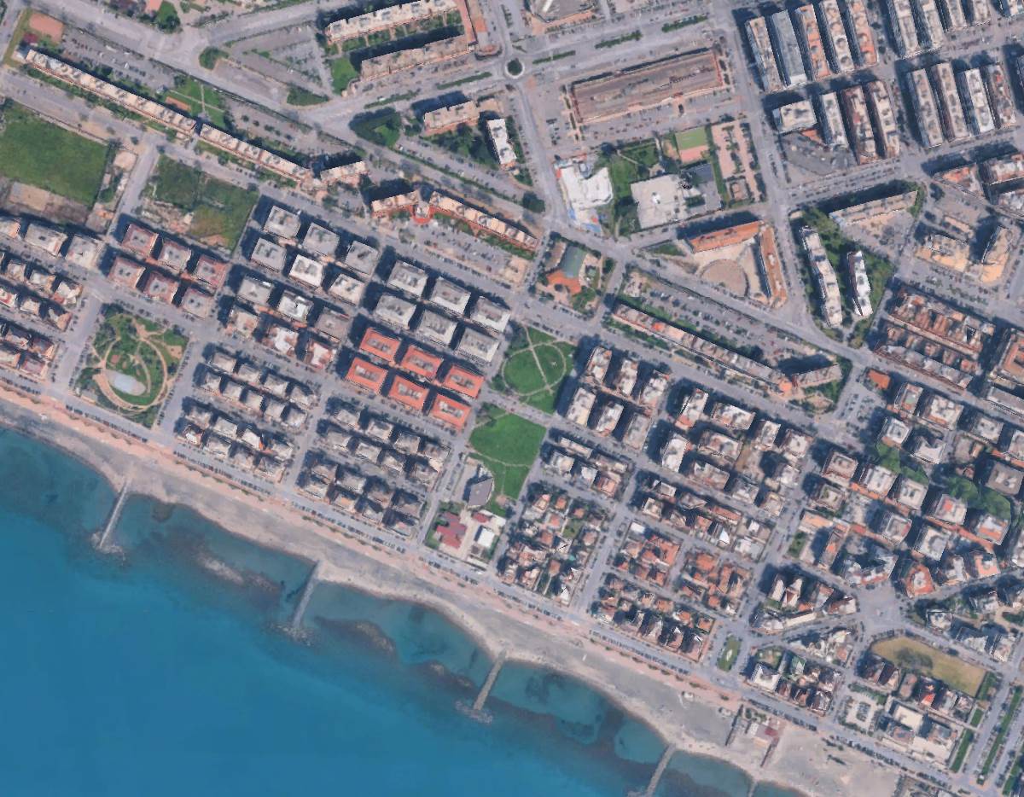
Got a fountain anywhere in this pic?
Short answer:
No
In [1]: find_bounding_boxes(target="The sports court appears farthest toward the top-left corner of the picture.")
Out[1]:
[30,13,63,42]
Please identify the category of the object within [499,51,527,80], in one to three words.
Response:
roundabout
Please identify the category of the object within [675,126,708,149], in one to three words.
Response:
sports court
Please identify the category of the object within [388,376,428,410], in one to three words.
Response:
building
